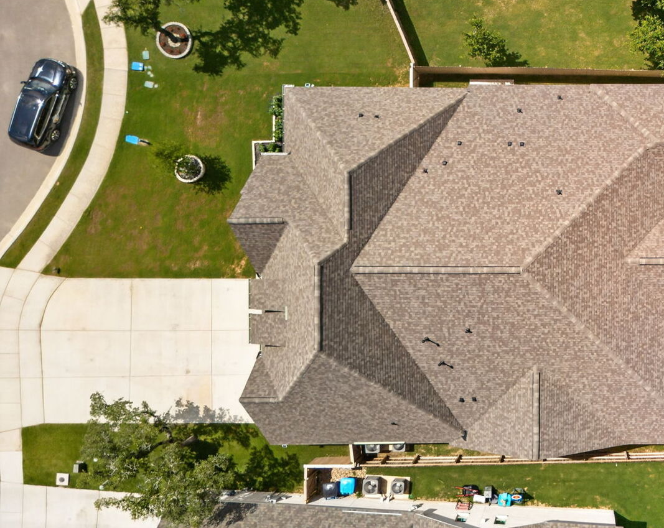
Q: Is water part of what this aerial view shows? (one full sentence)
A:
No, there is no water in the image.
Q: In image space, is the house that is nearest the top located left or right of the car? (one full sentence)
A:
The house that is nearest the top appears to the right of the car in this view.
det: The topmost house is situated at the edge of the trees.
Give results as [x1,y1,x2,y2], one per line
[226,82,664,460]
